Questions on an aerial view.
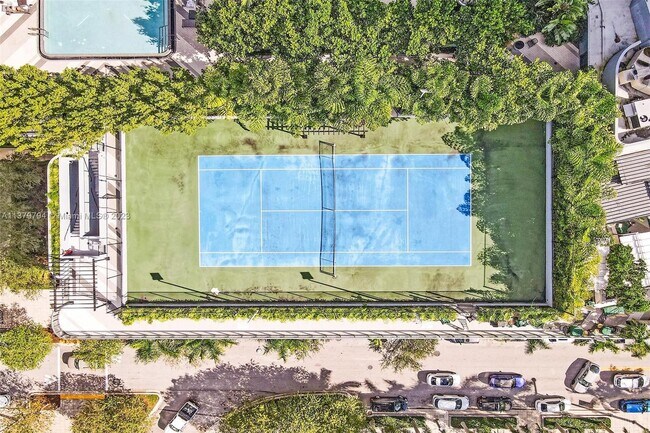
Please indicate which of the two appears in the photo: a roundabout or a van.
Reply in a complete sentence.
I can see a van in this picture.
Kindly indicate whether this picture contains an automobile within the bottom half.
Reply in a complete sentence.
Yes, you'll find an automobile within the bottom half.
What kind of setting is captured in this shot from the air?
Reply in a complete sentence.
This image shows a sports ground.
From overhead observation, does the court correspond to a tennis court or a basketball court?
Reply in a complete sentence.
Looking closely, the court is a tennis court.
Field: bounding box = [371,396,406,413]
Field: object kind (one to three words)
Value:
car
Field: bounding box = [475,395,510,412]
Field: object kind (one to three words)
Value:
car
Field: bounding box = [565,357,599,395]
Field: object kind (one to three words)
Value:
van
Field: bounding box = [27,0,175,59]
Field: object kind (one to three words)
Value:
swimming pool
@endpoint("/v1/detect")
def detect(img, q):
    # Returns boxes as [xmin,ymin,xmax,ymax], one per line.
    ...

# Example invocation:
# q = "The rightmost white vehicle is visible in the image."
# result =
[611,373,648,390]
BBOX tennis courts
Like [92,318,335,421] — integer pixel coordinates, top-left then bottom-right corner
[126,119,547,300]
